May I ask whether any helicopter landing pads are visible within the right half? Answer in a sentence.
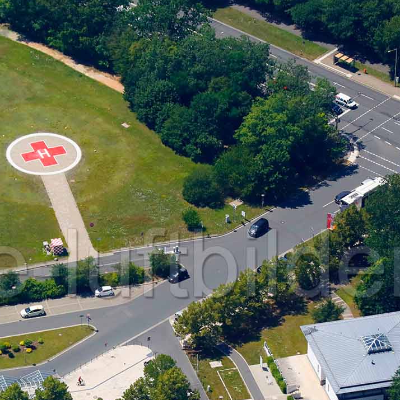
No, there's no helicopter landing pad to be seen within the right half.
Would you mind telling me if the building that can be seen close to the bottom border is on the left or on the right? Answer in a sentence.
The building that can be seen close to the bottom border appears in the right half of the scene.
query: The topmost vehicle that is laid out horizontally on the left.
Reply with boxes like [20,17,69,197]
[92,283,115,297]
